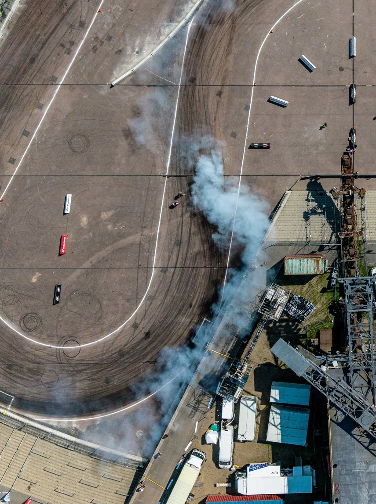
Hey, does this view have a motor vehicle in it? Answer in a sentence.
Yes, there's a motor vehicle down there.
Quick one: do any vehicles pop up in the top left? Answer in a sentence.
No, in the top left there is no vehicle.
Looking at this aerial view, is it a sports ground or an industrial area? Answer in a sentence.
The picture captures a sports ground.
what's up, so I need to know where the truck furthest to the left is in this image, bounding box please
[162,440,212,504]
